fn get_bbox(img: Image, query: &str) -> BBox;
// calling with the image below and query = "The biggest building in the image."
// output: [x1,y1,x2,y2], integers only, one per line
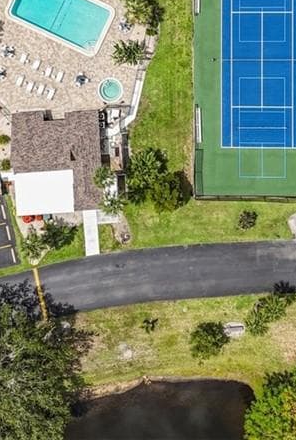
[12,110,103,212]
